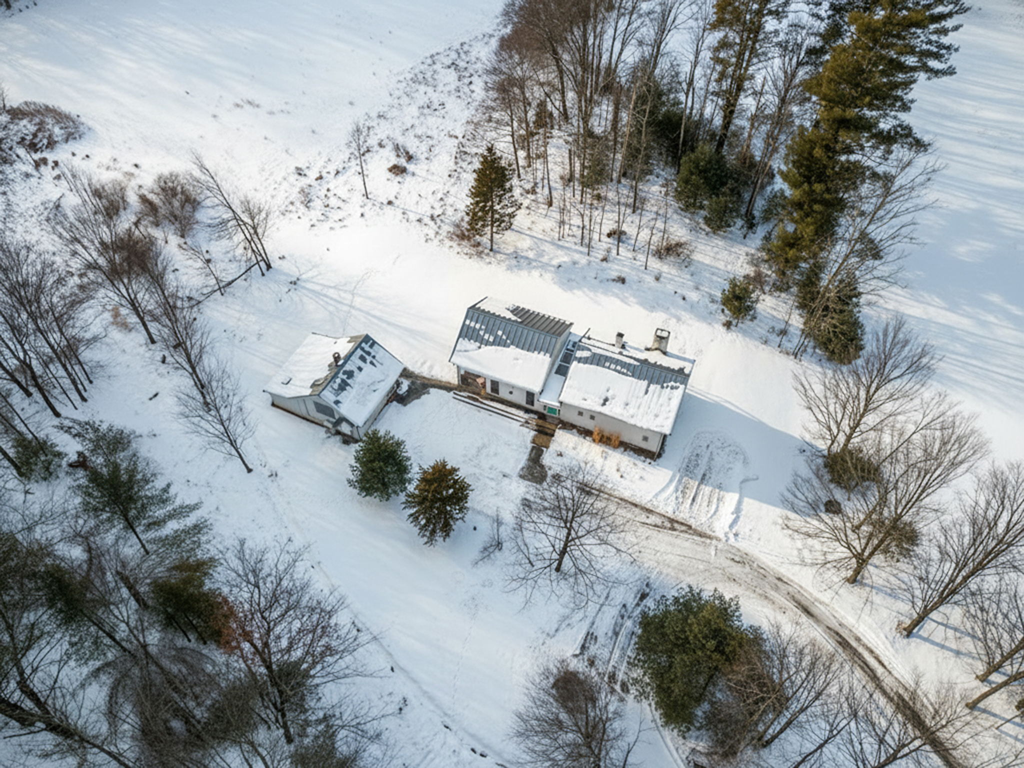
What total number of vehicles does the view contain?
0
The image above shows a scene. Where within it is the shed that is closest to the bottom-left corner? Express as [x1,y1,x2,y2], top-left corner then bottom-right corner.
[261,334,404,441]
